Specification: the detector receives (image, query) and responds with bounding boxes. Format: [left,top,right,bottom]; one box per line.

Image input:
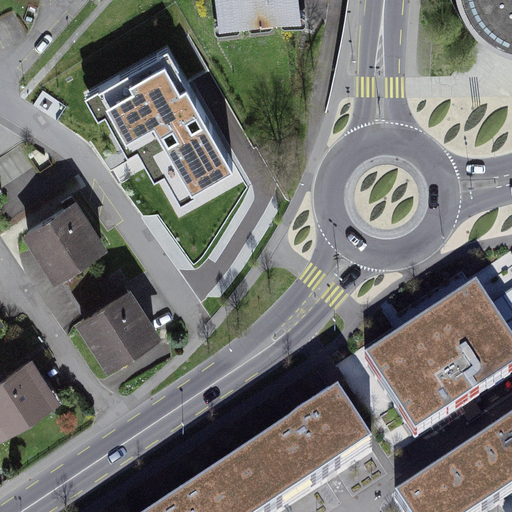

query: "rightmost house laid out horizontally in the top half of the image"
[214,0,305,39]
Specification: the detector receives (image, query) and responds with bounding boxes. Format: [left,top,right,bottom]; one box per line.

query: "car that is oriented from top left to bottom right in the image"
[346,234,368,253]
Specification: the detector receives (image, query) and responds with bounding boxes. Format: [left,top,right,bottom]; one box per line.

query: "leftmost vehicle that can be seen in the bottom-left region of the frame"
[107,448,128,464]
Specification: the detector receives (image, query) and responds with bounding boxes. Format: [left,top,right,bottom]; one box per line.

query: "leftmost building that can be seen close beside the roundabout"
[84,48,244,218]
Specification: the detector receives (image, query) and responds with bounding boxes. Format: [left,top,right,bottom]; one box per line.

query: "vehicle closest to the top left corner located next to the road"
[24,6,36,25]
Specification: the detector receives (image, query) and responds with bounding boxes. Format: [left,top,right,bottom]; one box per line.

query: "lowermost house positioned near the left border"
[0,361,60,444]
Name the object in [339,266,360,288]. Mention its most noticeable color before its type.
black car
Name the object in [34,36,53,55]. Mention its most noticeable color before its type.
white car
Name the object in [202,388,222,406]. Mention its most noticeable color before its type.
black car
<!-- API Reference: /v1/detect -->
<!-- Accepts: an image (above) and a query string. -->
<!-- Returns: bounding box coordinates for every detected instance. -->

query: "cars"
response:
[24,6,36,25]
[346,234,368,253]
[466,164,486,176]
[152,314,174,330]
[34,36,53,55]
[428,186,438,209]
[107,448,128,464]
[202,388,222,406]
[339,266,360,288]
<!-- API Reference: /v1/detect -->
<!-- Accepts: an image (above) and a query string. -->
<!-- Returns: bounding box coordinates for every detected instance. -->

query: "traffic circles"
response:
[312,122,460,272]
